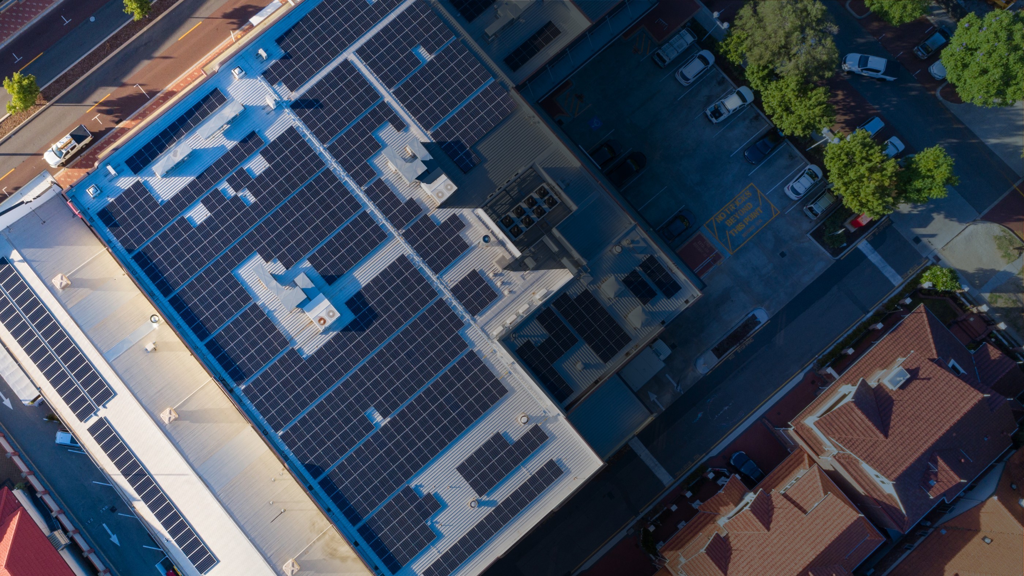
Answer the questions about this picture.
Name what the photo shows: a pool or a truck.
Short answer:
truck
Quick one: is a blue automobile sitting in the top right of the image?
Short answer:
Yes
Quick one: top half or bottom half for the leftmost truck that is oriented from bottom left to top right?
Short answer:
top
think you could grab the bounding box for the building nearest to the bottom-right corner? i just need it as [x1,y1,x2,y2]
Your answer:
[893,446,1024,576]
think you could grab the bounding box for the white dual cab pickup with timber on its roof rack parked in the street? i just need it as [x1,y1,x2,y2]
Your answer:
[45,124,96,169]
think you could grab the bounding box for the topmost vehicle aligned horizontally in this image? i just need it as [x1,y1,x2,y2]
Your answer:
[841,52,898,83]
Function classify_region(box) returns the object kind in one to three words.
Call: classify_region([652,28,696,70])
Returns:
car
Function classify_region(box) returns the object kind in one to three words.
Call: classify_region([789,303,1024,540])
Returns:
house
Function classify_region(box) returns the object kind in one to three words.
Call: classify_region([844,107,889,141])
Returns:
car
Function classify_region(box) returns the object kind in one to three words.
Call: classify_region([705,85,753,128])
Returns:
truck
